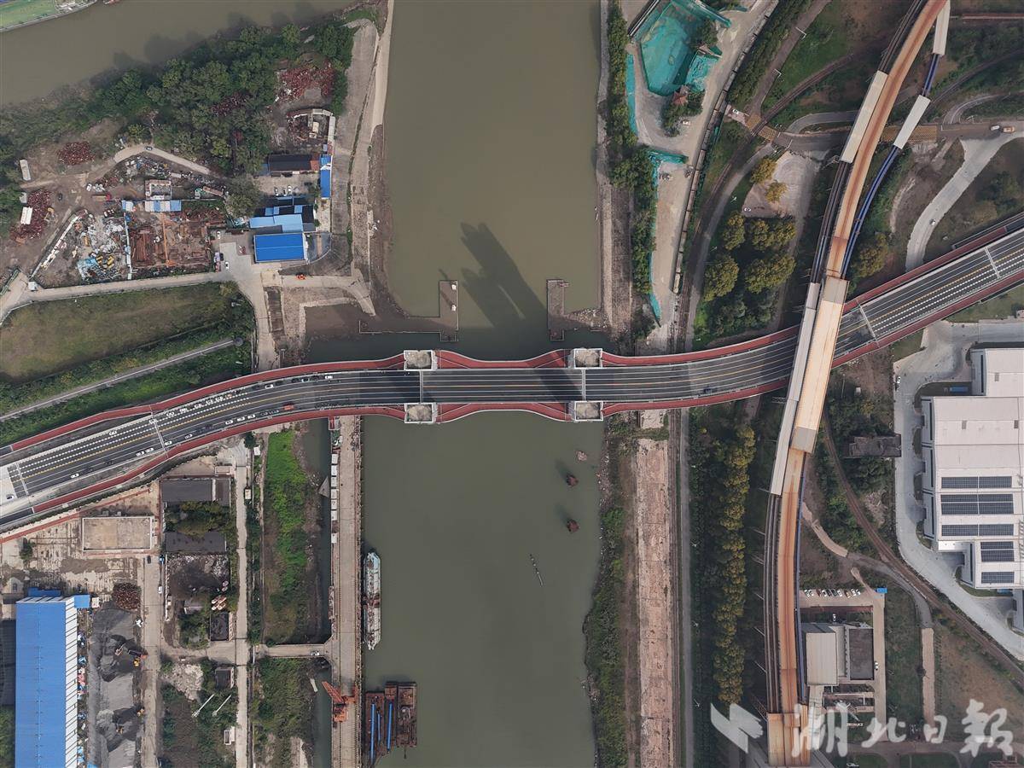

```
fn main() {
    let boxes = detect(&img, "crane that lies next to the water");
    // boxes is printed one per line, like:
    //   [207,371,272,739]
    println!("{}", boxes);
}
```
[321,673,358,722]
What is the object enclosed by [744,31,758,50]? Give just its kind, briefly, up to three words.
rail car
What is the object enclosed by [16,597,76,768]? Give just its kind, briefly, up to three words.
building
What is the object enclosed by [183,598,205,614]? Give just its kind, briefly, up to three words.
house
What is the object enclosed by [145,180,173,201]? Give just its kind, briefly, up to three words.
house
